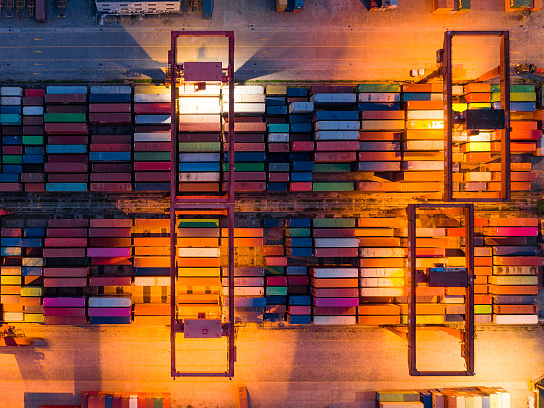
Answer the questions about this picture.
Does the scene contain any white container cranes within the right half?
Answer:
No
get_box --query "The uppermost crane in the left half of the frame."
[160,31,242,202]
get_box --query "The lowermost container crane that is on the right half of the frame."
[374,204,476,376]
